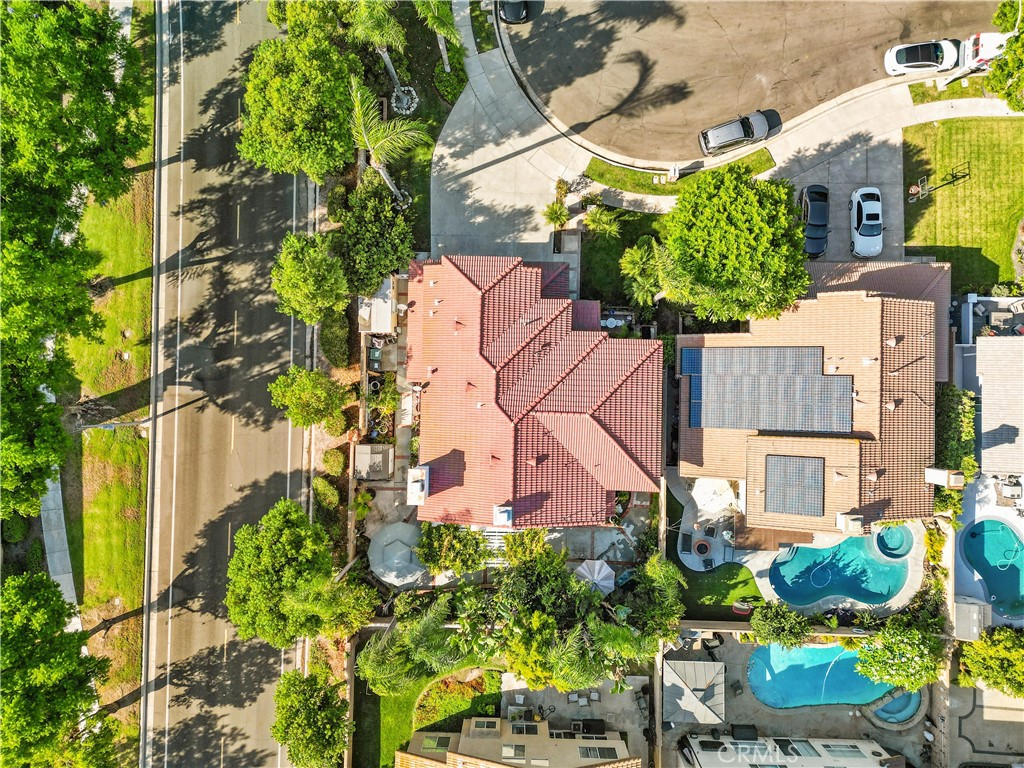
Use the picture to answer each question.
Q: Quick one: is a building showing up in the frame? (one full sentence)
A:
Yes, this view includes a building.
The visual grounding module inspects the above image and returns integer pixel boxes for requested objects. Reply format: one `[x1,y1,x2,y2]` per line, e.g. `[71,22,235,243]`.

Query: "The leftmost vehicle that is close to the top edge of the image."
[497,0,530,28]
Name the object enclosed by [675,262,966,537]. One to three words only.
house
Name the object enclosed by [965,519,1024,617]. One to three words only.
swimming pool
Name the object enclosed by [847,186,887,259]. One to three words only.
car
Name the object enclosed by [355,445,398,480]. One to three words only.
shed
